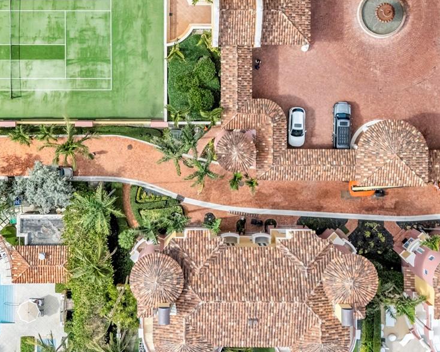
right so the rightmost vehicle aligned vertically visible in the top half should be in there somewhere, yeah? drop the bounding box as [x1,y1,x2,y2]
[332,101,352,148]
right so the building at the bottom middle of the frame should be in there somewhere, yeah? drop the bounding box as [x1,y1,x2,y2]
[128,219,375,352]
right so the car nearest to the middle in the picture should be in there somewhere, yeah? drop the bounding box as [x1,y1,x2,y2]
[288,105,306,146]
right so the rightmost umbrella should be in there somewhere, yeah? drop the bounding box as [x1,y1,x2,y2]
[17,298,41,323]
